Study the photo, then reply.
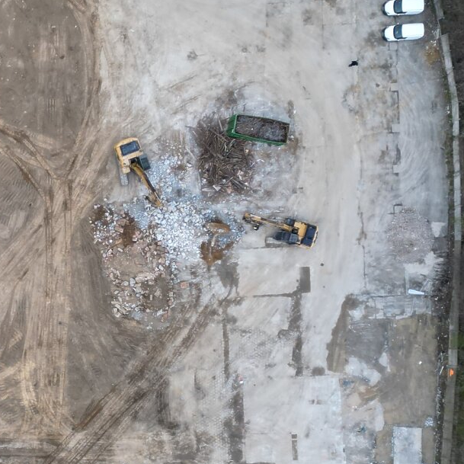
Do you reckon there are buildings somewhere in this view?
No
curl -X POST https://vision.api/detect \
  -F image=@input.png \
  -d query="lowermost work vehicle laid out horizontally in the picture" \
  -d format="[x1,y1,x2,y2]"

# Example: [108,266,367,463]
[228,211,328,250]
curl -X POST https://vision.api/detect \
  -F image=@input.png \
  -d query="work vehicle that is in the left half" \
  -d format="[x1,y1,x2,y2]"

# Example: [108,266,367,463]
[112,131,161,213]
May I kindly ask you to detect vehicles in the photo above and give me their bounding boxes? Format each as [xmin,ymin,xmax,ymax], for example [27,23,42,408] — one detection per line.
[381,21,429,42]
[112,131,161,213]
[381,0,429,18]
[228,211,328,250]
